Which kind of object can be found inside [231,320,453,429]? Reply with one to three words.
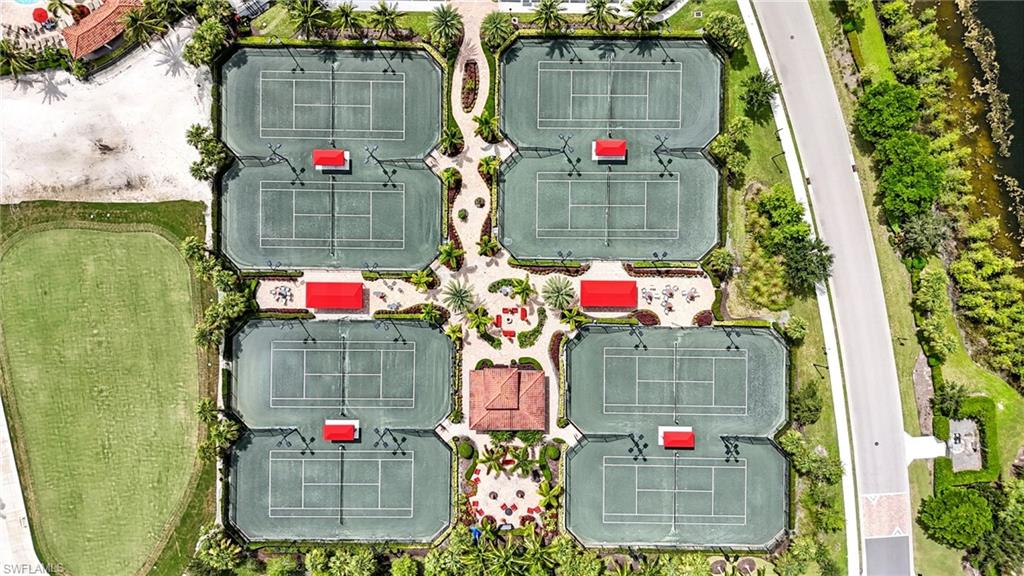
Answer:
tennis court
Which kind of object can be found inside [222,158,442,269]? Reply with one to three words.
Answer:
tennis court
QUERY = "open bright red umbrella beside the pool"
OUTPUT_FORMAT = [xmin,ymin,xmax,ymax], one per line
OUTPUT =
[34,8,52,24]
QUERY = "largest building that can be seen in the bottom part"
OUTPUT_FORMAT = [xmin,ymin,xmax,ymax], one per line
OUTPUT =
[469,368,545,430]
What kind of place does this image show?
sports ground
